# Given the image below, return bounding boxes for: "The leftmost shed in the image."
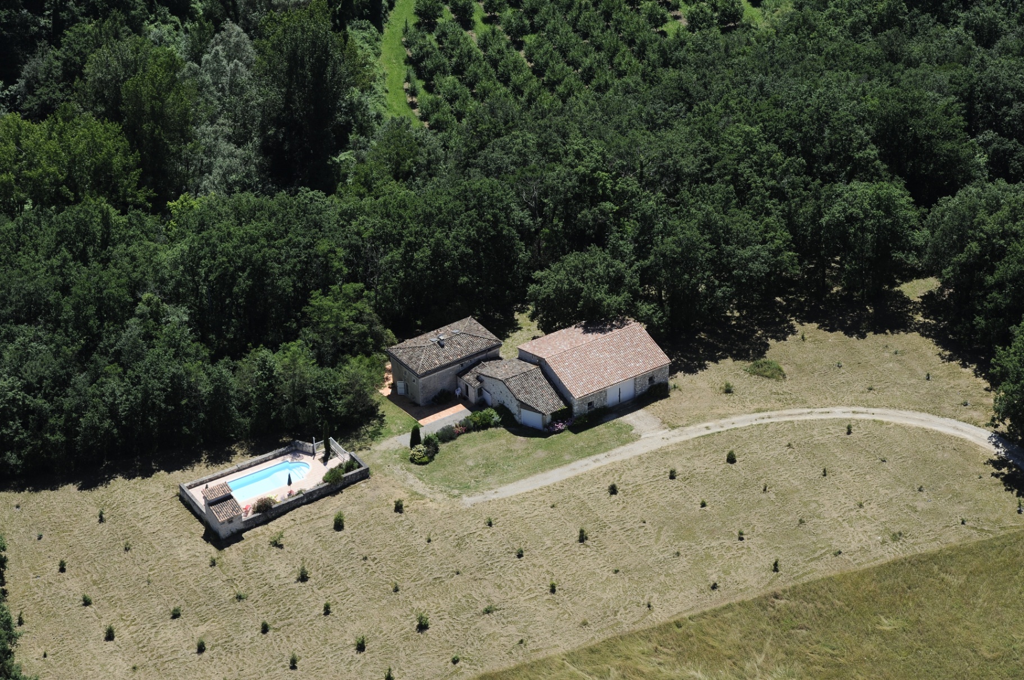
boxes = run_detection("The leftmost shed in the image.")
[201,482,244,540]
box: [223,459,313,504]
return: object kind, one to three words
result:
swimming pool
